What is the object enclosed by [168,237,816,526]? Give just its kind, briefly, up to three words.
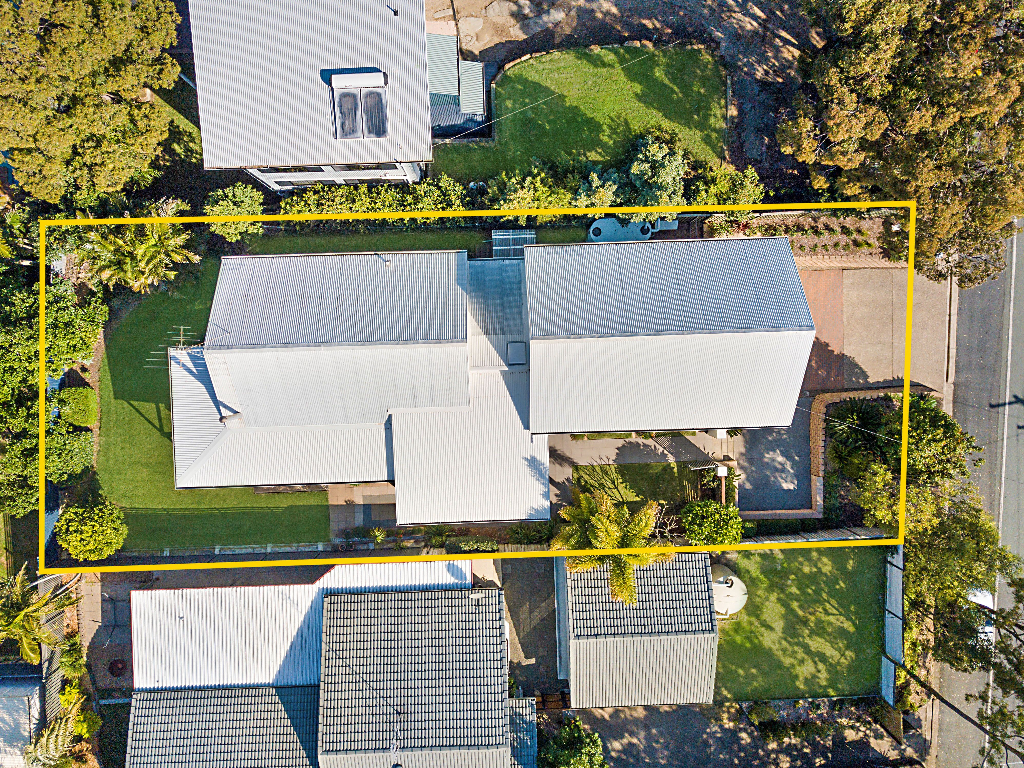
house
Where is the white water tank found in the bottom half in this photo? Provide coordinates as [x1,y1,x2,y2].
[710,553,746,620]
